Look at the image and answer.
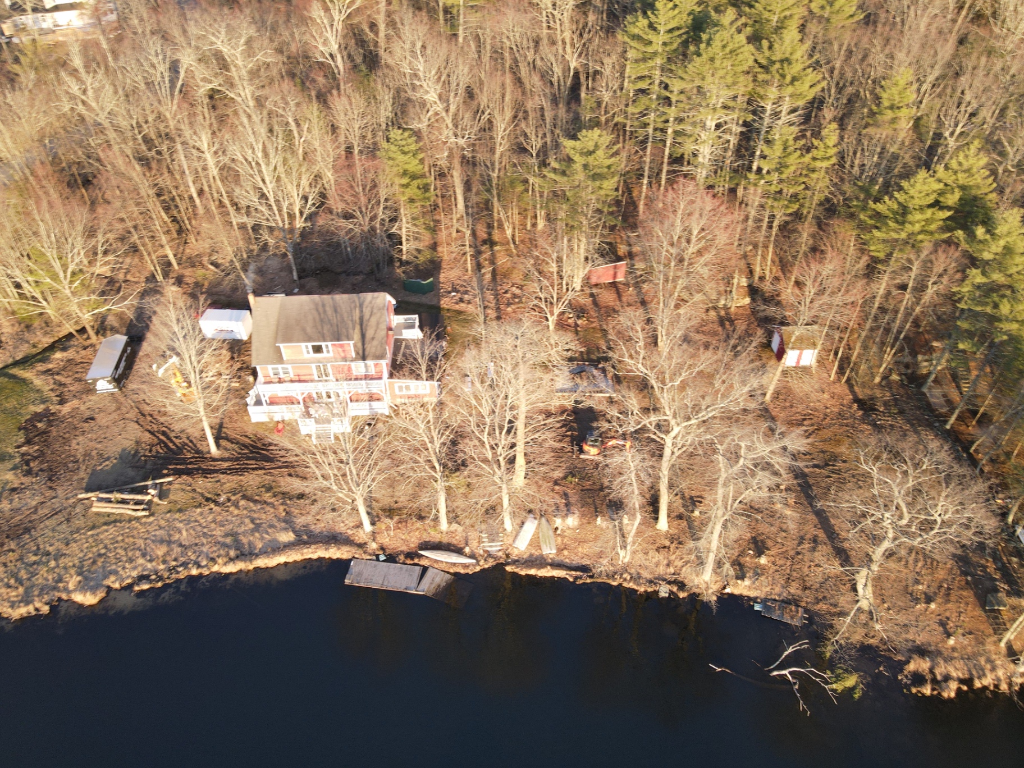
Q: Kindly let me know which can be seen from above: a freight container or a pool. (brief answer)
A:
freight container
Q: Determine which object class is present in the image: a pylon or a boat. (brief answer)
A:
boat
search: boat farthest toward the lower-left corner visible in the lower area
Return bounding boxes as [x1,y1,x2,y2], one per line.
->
[418,550,476,565]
